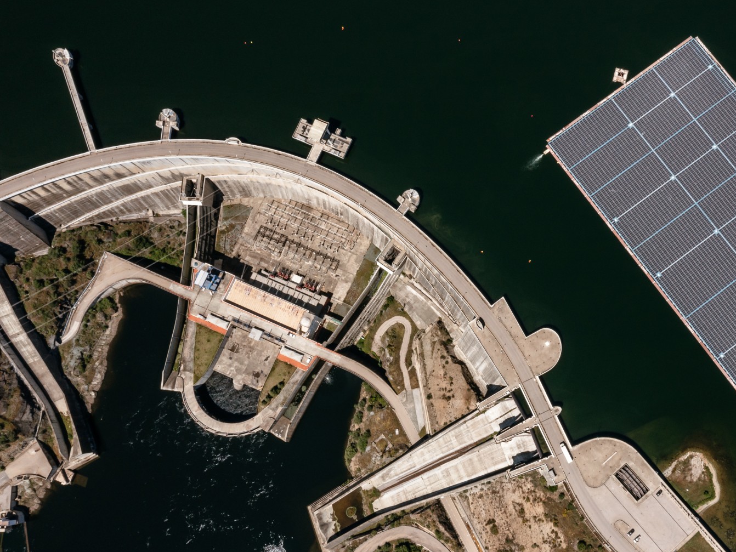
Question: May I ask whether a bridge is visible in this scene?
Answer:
Yes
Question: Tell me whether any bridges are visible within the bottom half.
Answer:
Yes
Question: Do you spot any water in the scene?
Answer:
Yes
